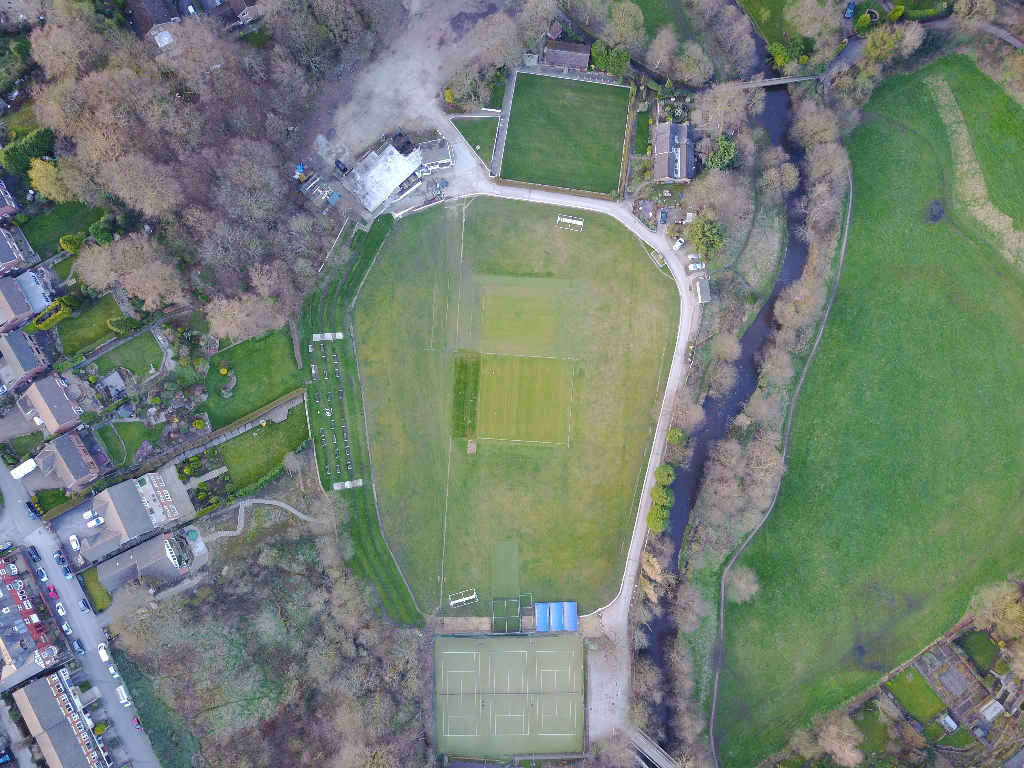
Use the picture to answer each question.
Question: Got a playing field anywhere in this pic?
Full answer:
Yes, the picture does show a playing field.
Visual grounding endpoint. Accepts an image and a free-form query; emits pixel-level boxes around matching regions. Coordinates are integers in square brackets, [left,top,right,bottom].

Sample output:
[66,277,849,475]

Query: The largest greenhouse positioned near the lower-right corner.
[975,694,1003,720]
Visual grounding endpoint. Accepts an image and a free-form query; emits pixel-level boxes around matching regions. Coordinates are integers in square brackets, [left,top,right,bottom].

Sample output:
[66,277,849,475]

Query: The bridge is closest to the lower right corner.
[625,729,680,768]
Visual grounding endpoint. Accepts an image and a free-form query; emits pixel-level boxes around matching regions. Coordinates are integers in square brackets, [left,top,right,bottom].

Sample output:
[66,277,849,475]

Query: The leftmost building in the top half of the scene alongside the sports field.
[342,142,424,215]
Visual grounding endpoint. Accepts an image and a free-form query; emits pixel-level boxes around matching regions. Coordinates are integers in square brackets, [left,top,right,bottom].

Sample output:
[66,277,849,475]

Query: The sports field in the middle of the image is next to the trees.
[353,194,681,633]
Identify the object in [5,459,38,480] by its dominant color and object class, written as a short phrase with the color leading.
white camper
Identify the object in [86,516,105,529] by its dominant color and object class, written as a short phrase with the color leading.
white vehicle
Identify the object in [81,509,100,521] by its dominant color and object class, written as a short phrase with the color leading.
white vehicle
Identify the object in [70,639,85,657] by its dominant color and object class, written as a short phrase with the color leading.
blue car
